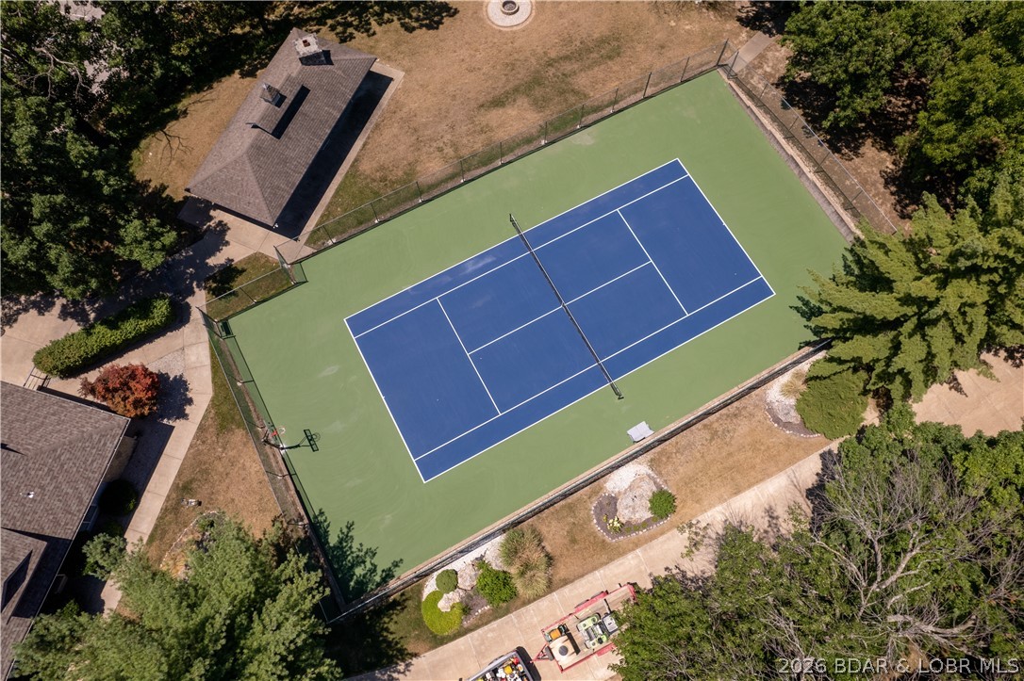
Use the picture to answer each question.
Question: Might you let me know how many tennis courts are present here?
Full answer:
The photo contains exactly 1 tennis court.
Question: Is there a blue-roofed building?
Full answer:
No, the photo shows no blue-roofed building.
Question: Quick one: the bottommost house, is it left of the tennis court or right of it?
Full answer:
Relative to the tennis court, the bottommost house is on the left.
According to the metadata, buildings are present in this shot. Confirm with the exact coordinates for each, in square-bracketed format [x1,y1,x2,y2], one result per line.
[0,376,143,681]
[180,27,409,267]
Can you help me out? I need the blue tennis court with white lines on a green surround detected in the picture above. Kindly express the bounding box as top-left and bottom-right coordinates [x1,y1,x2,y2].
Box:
[224,66,888,606]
